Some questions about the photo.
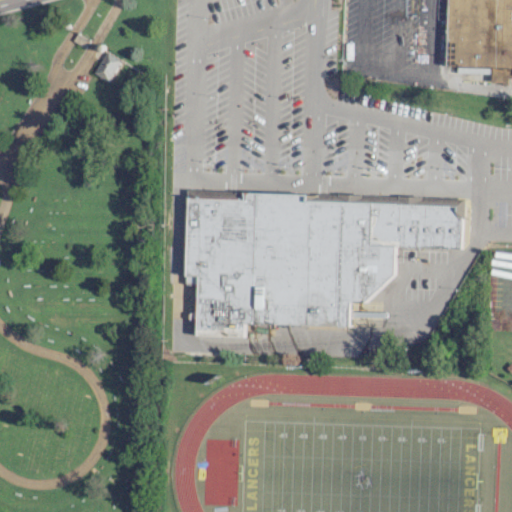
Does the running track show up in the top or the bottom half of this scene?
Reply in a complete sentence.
The bottom half of the photo is where the running track is.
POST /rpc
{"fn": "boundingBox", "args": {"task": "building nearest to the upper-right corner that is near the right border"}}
[446,0,512,86]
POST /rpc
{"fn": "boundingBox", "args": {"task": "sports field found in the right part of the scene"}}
[242,418,481,512]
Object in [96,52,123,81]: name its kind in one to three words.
house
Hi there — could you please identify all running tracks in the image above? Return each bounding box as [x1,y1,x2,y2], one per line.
[175,374,512,512]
